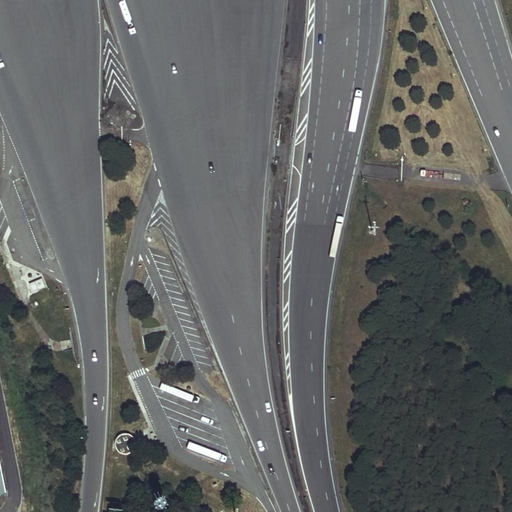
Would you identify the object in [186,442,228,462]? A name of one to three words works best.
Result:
vehicle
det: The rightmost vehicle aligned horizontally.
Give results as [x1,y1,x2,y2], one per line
[420,168,462,182]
